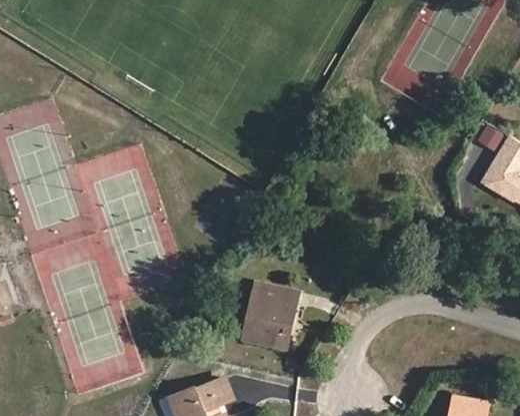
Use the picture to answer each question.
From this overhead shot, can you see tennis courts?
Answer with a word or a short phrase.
Yes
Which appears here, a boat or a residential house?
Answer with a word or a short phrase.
residential house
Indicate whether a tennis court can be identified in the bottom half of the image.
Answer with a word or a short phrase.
Yes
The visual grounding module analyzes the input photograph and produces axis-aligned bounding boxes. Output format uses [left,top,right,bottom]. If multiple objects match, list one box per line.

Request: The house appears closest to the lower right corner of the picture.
[449,394,490,416]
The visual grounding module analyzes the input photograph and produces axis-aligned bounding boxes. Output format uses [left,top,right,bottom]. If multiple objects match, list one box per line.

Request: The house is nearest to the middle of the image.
[240,279,304,352]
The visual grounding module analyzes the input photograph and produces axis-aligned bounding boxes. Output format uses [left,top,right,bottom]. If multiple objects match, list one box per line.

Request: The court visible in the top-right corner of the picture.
[381,0,507,114]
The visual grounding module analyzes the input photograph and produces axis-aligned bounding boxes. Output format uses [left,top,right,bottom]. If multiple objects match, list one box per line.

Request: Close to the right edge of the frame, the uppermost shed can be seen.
[478,125,504,152]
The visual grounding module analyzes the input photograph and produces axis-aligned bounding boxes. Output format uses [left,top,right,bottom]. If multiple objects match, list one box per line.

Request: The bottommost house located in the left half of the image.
[166,377,240,416]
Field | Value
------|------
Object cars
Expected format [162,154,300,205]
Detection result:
[381,113,397,130]
[388,395,406,407]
